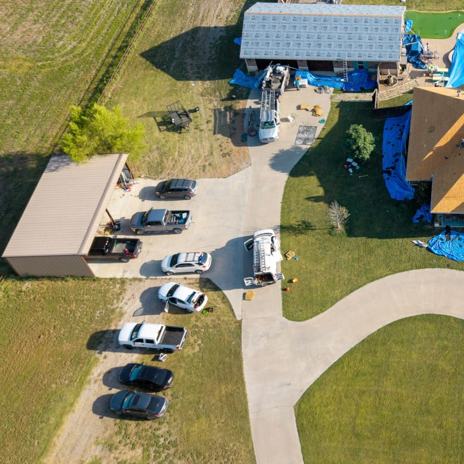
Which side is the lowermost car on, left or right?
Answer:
left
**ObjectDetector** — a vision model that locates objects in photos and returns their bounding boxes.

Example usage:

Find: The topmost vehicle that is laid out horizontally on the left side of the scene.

[150,173,202,197]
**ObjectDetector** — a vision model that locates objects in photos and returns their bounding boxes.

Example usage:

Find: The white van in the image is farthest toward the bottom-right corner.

[240,227,288,287]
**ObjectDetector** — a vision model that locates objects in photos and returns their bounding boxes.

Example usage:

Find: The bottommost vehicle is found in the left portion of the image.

[104,387,170,422]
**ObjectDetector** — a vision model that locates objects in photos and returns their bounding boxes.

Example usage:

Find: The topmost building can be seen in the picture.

[240,2,410,77]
